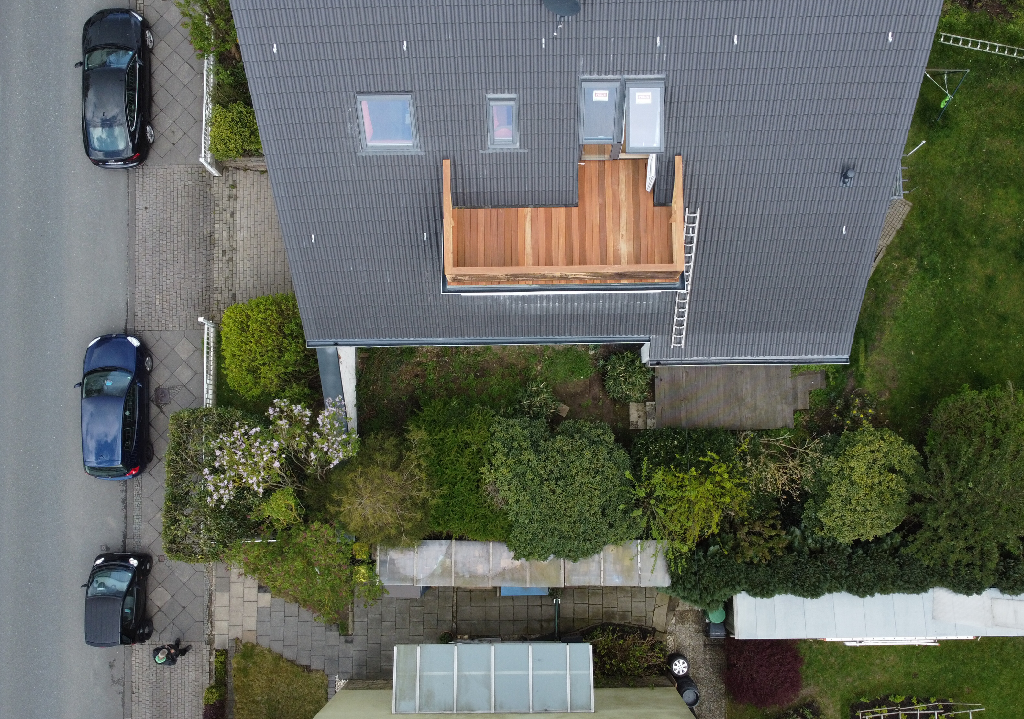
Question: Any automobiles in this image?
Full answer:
Yes, there's an automobile down there.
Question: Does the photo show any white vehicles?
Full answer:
No, the frame has no white vehicle in it.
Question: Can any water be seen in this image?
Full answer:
No, the scene doesn't show any water.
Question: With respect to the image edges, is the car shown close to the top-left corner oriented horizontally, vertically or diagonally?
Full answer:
Seen from above, the car shown close to the top-left corner lies vertically.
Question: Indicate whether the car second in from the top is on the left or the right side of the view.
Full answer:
It is on the left.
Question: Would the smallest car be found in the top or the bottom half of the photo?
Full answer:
Seen from above, the smallest car lies in the bottom half of the view.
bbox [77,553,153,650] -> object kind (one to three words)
car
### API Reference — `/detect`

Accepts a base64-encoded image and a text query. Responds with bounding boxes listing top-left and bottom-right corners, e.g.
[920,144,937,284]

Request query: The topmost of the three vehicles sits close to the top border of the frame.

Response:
[72,8,156,173]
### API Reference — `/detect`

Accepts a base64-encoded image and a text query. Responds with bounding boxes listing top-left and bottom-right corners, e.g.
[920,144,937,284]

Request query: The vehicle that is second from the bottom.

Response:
[73,332,155,480]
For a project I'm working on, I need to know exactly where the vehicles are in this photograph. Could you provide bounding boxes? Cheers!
[72,8,156,173]
[77,553,153,650]
[73,332,155,480]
